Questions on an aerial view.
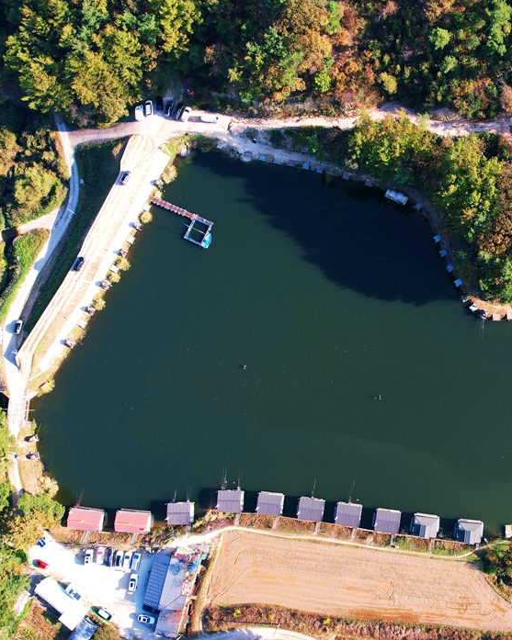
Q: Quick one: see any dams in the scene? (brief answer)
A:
Yes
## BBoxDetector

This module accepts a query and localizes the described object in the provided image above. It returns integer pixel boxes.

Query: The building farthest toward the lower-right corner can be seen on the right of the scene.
[455,515,484,543]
